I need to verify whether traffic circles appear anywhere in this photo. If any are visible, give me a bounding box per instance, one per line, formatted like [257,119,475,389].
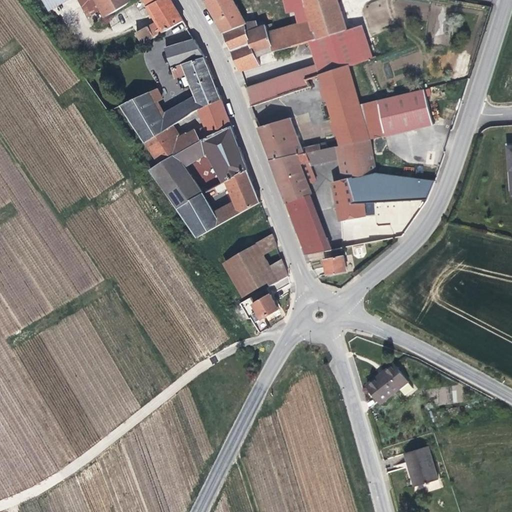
[276,270,386,361]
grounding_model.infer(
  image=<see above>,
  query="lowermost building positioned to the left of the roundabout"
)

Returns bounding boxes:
[251,294,278,321]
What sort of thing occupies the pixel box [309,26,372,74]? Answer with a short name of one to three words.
building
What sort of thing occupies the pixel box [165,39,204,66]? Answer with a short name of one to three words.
barn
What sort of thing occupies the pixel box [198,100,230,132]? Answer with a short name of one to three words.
house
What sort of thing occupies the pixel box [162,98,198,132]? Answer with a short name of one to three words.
shed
